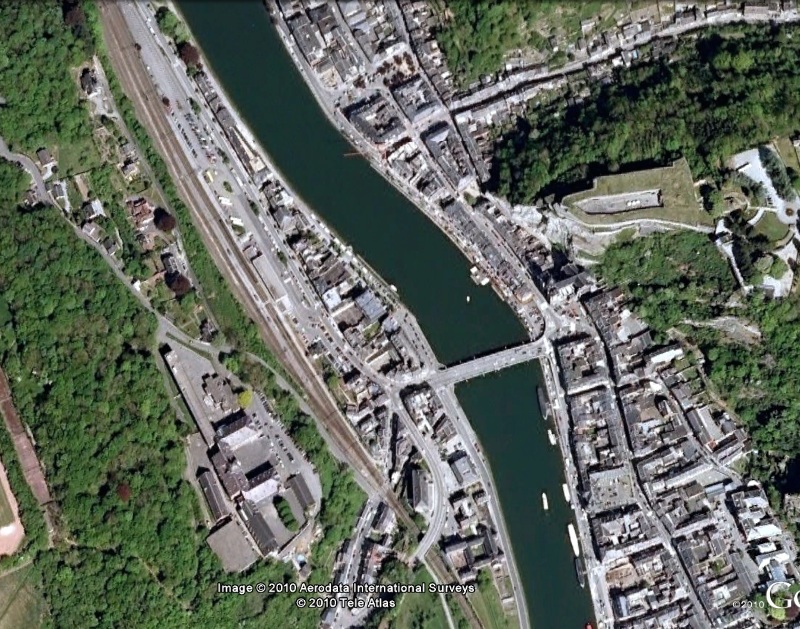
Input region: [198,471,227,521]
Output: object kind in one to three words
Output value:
building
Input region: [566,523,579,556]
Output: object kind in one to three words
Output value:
boat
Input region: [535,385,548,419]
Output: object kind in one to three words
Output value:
ship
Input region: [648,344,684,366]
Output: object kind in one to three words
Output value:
building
